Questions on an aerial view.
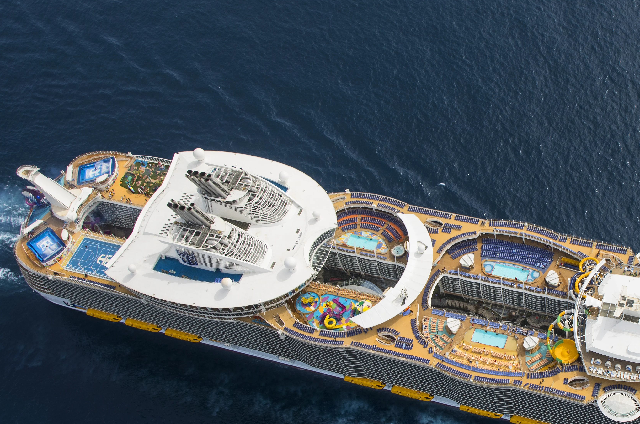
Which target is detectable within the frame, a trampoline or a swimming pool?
swimming pool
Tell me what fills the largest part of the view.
water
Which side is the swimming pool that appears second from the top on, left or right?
right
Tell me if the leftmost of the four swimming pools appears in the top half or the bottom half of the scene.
bottom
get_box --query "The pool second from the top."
[482,259,543,283]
